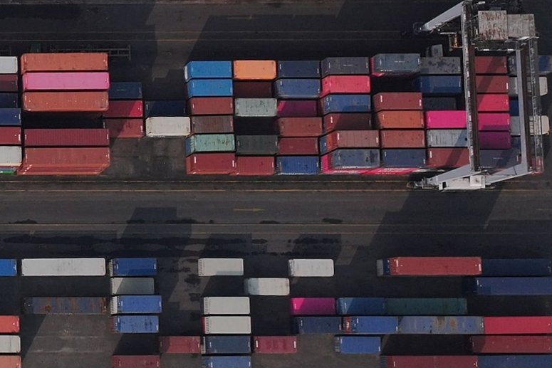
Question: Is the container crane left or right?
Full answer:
The container crane appears in the right half of the scene.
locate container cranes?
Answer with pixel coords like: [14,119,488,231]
[398,0,543,193]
